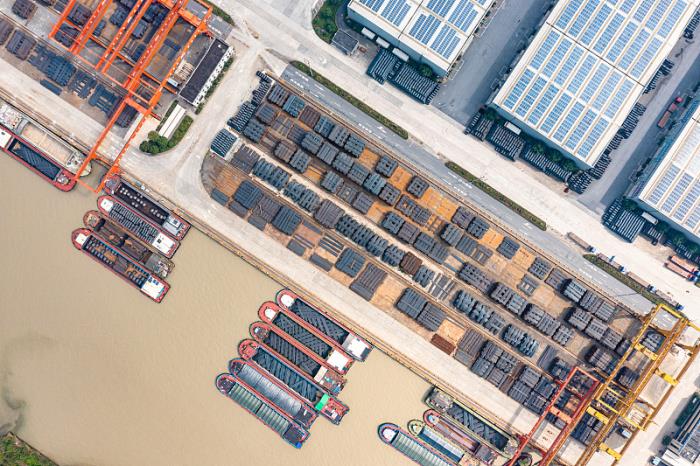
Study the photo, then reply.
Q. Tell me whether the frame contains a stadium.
No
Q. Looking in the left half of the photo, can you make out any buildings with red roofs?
No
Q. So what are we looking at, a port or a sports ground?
port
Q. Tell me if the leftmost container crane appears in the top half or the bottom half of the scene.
top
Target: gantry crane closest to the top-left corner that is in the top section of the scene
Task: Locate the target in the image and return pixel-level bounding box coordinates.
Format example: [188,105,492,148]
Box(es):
[49,0,107,51]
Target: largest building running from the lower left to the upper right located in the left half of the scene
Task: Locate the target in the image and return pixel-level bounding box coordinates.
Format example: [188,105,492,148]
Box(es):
[178,39,234,108]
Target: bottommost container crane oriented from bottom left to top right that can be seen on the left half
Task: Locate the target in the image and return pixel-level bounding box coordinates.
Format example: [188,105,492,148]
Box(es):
[73,92,161,194]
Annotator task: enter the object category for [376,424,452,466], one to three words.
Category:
ship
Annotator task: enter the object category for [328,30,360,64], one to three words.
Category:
shed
